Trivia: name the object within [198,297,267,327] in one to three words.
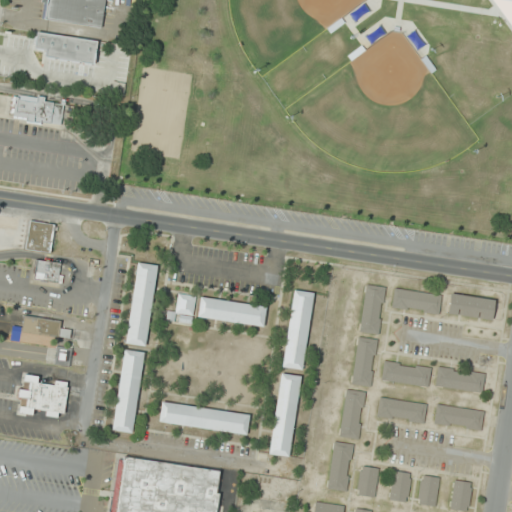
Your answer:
building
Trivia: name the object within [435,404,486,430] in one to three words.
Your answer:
building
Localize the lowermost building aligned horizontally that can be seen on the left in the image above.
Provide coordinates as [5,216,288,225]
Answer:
[111,459,222,512]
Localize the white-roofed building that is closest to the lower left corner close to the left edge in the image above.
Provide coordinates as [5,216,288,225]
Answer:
[18,374,69,418]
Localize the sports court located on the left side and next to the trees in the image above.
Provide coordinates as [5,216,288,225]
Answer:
[130,66,193,160]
